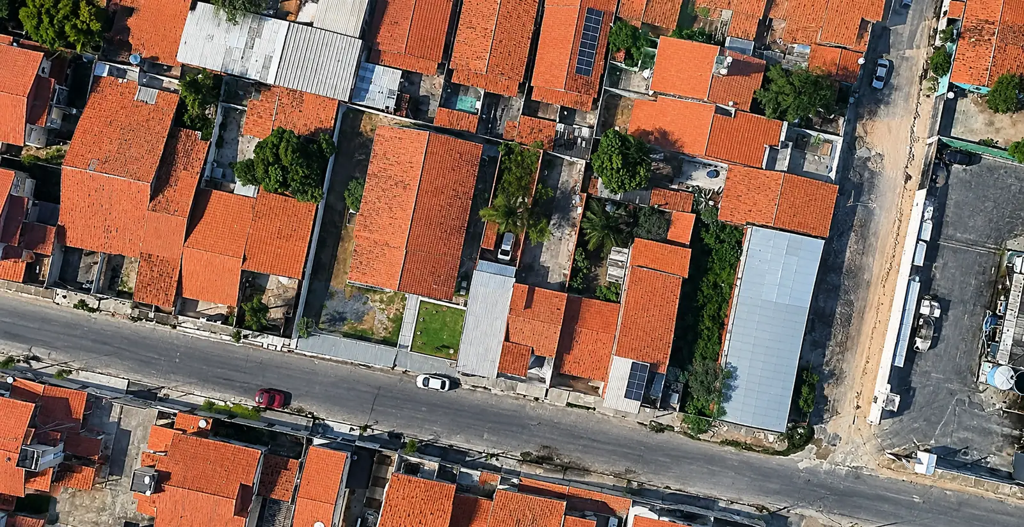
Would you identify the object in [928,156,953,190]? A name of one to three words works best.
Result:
car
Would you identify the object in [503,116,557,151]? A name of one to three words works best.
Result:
house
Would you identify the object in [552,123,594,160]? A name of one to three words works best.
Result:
shed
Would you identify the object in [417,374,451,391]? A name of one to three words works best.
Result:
car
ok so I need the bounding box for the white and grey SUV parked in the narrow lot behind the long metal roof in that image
[496,229,515,263]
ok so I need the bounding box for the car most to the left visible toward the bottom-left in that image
[255,390,286,407]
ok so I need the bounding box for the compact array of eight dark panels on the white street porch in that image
[626,364,648,401]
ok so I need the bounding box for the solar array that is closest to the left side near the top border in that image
[575,7,603,76]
